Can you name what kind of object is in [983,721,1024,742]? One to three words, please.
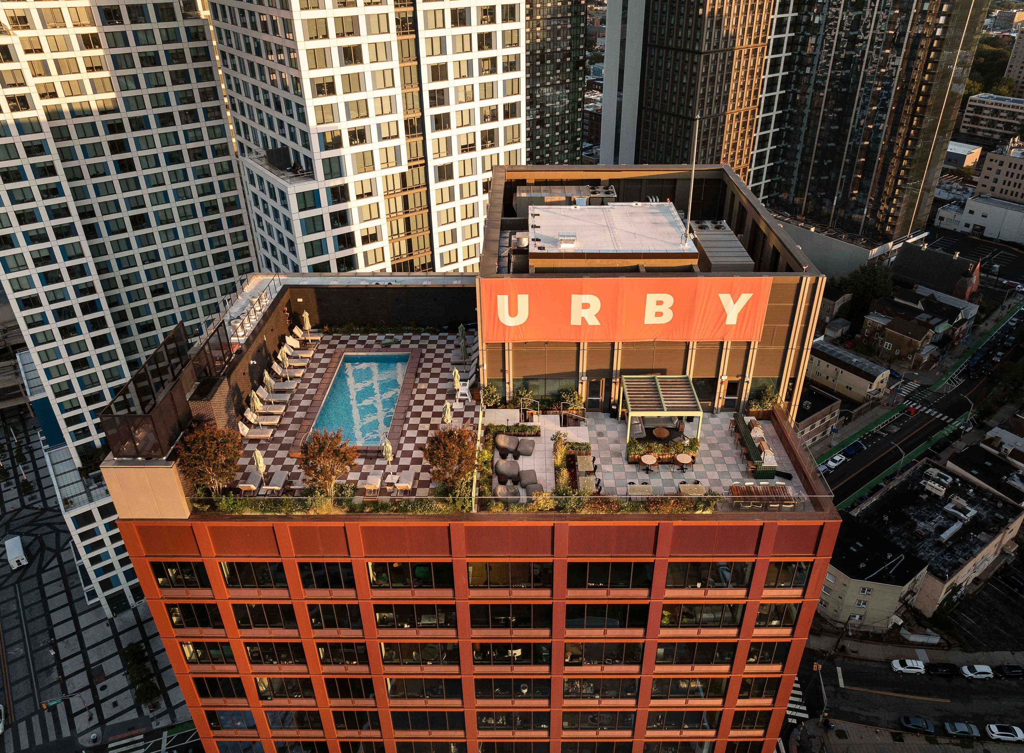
car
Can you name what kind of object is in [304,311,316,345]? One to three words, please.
umbrella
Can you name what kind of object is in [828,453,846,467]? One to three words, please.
car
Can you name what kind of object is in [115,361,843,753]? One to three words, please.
building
